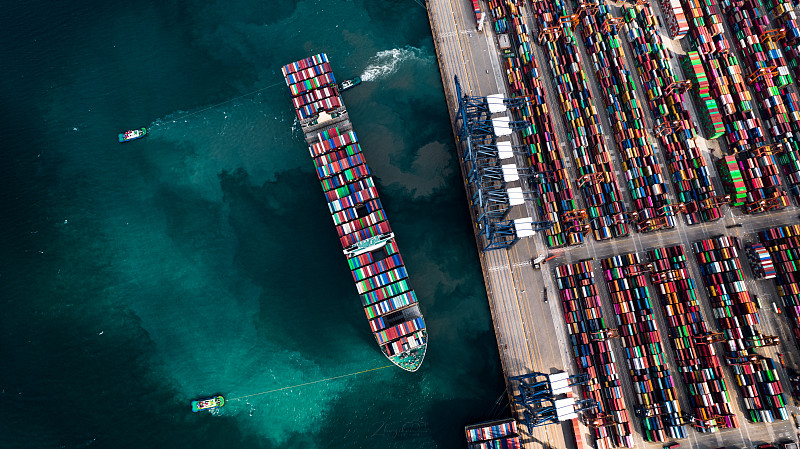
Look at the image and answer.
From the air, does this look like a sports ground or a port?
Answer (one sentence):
The area seen from above is a port.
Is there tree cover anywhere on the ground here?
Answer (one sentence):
No, tree cover can't be seen anywhere here.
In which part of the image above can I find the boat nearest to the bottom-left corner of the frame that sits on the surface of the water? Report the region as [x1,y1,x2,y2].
[191,395,223,412]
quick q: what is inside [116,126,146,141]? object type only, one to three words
boat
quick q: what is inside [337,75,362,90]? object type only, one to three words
boat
